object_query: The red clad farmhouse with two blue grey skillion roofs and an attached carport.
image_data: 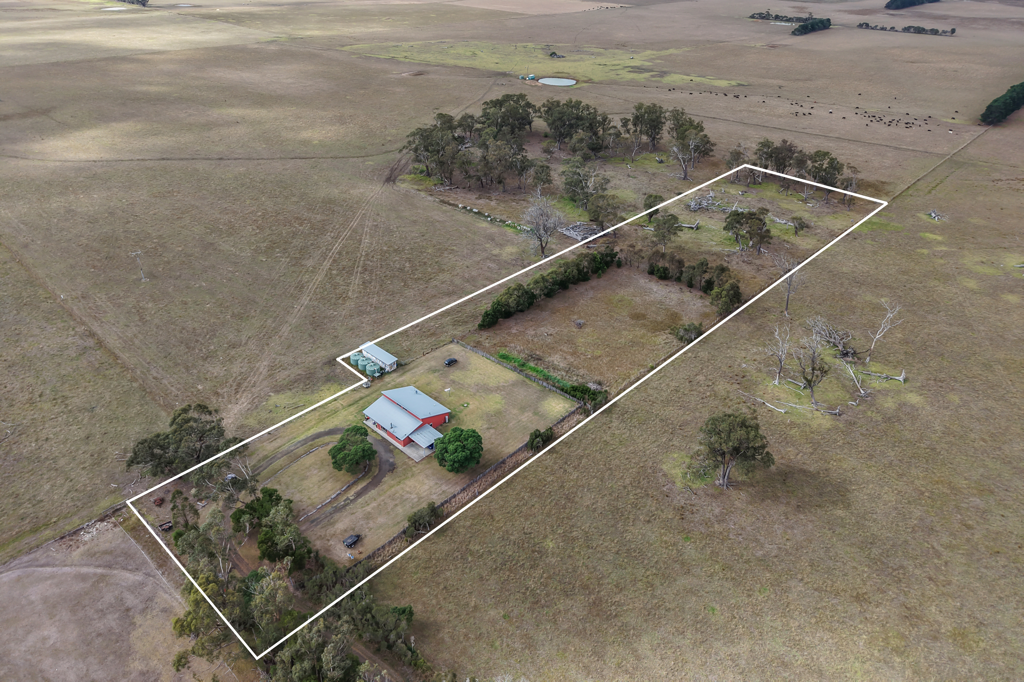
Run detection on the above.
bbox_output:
[363,383,451,462]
